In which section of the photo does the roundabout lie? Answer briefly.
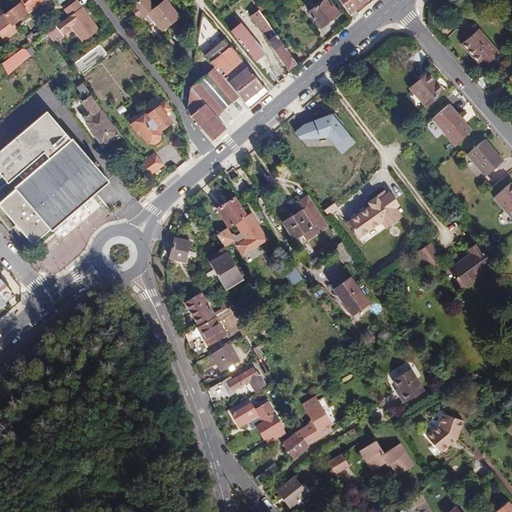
left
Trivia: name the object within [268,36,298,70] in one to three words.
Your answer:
shed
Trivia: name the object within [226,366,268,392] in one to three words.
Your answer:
house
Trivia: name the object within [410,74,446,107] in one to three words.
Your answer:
house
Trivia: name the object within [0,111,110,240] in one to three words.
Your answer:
building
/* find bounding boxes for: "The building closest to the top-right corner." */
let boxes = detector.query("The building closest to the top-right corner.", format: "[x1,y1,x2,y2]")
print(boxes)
[460,28,498,67]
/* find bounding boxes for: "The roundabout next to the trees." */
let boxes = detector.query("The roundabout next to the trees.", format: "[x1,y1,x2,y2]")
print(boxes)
[91,226,148,282]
